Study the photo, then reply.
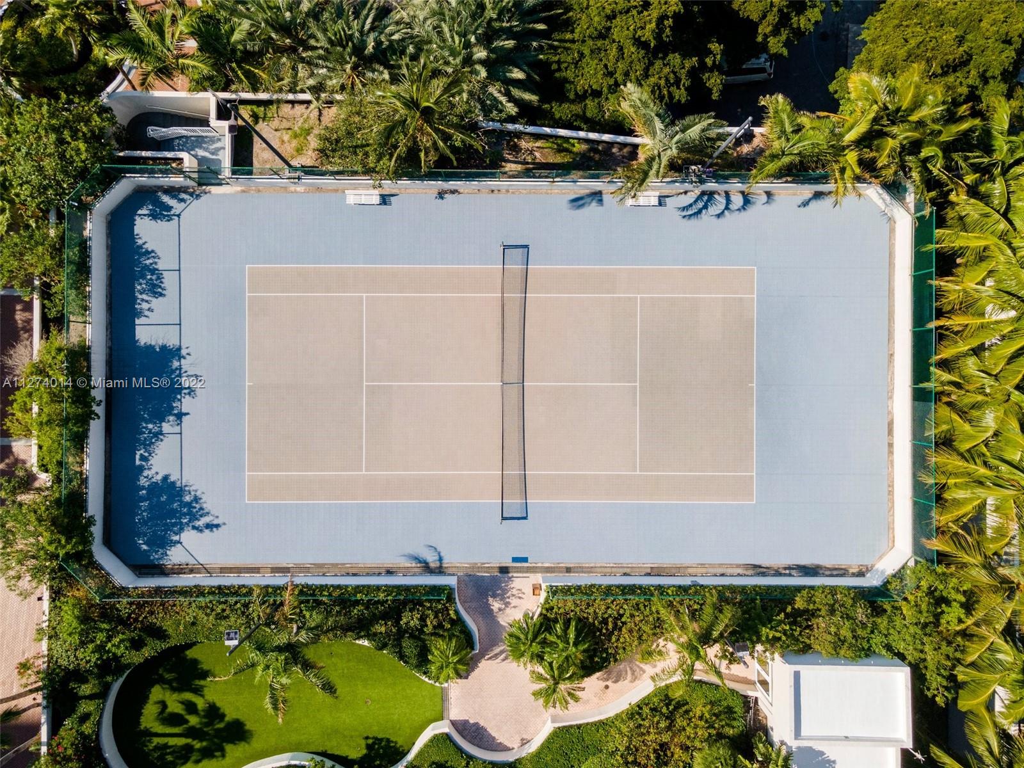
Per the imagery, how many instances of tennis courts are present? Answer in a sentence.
In total, 1 tennis court can be seen.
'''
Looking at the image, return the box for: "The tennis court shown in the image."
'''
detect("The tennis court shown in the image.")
[109,182,891,575]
